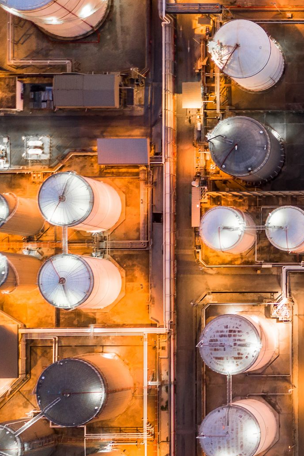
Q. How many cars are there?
0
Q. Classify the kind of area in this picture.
industrial area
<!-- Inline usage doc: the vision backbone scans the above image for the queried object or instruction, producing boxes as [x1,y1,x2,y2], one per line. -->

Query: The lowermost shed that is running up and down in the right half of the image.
[191,188,205,227]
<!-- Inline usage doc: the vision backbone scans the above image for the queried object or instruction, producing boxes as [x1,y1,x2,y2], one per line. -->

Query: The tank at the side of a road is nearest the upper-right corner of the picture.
[208,19,285,91]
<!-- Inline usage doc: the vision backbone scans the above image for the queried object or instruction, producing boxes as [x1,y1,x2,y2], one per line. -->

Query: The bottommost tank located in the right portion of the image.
[197,396,279,456]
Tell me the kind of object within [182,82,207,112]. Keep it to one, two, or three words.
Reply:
shed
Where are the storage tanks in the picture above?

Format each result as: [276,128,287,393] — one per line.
[0,415,59,456]
[208,19,285,91]
[197,396,279,456]
[36,171,125,235]
[208,115,284,183]
[0,193,44,236]
[0,0,108,36]
[202,205,263,255]
[269,205,304,255]
[36,254,125,311]
[0,253,43,293]
[197,311,279,375]
[36,352,135,426]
